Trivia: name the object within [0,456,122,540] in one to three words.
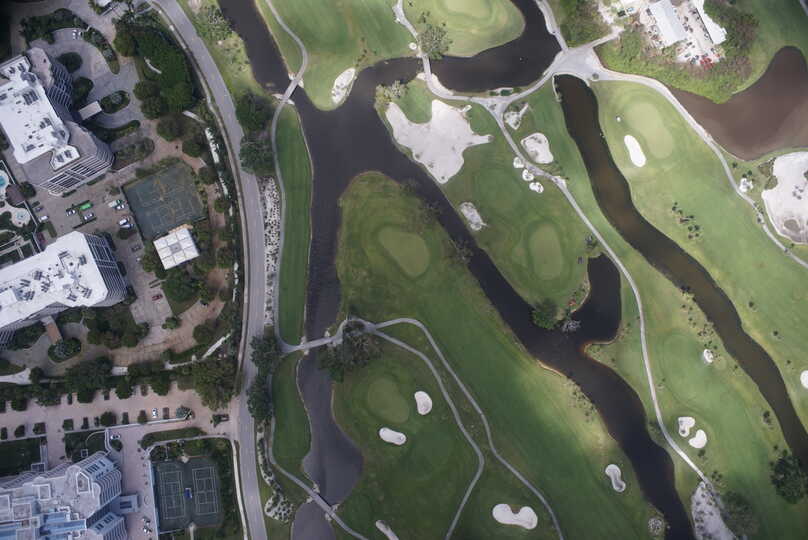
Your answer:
building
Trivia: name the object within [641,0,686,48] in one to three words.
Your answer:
shed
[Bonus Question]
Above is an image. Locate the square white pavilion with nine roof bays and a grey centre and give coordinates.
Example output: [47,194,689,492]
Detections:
[154,228,200,269]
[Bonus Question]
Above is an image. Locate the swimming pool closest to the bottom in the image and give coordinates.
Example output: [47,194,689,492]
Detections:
[11,207,30,226]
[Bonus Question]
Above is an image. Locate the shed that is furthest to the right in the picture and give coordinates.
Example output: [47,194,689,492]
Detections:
[690,0,726,46]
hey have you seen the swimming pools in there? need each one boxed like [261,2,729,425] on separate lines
[0,171,9,193]
[11,207,30,226]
